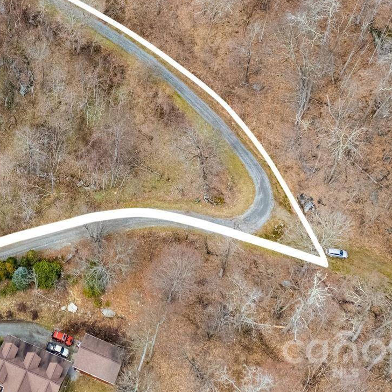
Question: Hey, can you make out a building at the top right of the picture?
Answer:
No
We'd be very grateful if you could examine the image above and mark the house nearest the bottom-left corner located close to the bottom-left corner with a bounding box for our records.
[0,335,72,392]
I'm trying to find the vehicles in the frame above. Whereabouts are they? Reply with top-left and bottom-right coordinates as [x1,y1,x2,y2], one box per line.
[46,341,70,359]
[326,249,349,260]
[53,330,73,346]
